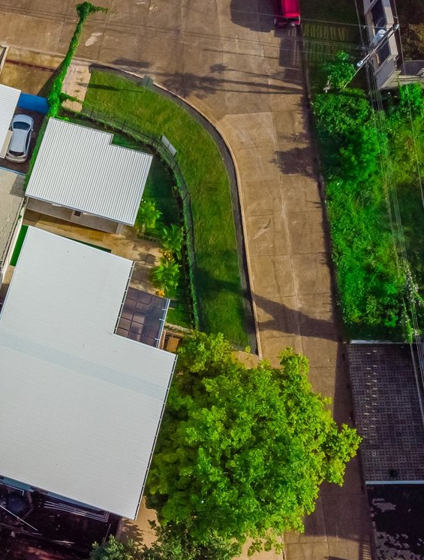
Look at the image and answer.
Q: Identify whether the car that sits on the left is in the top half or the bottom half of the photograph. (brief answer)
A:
top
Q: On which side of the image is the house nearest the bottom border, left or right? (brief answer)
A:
left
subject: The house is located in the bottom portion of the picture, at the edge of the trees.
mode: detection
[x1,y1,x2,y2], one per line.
[0,224,183,521]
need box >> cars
[6,111,35,164]
[275,0,305,29]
